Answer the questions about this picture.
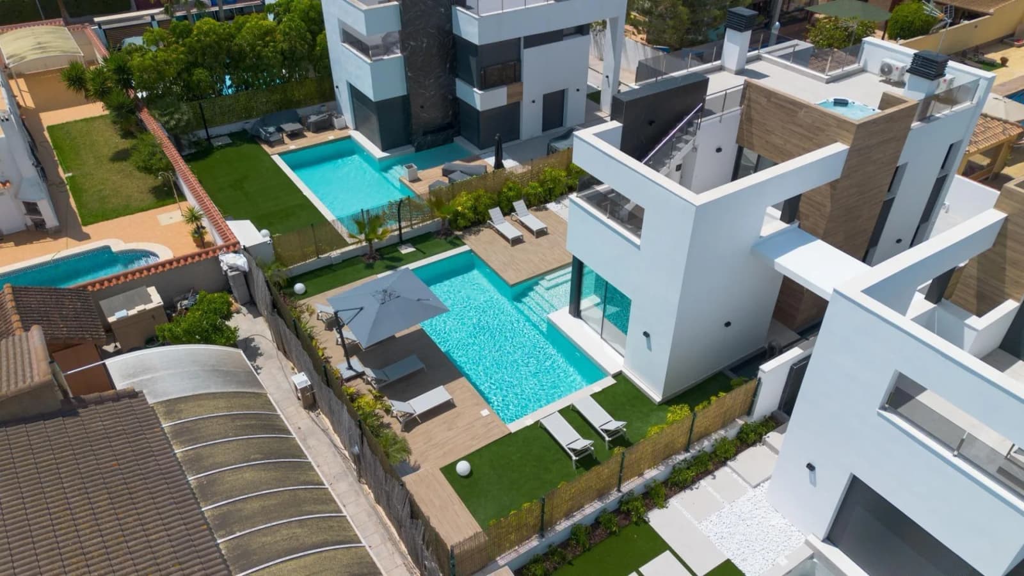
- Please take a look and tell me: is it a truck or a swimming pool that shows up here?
swimming pool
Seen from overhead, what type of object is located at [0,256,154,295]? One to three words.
swimming pool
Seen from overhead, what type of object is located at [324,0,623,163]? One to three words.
house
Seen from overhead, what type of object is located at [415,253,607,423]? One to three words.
swimming pool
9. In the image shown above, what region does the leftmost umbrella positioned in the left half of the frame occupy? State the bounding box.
[326,268,455,375]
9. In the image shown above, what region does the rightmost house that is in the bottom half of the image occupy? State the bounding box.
[759,173,1024,576]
